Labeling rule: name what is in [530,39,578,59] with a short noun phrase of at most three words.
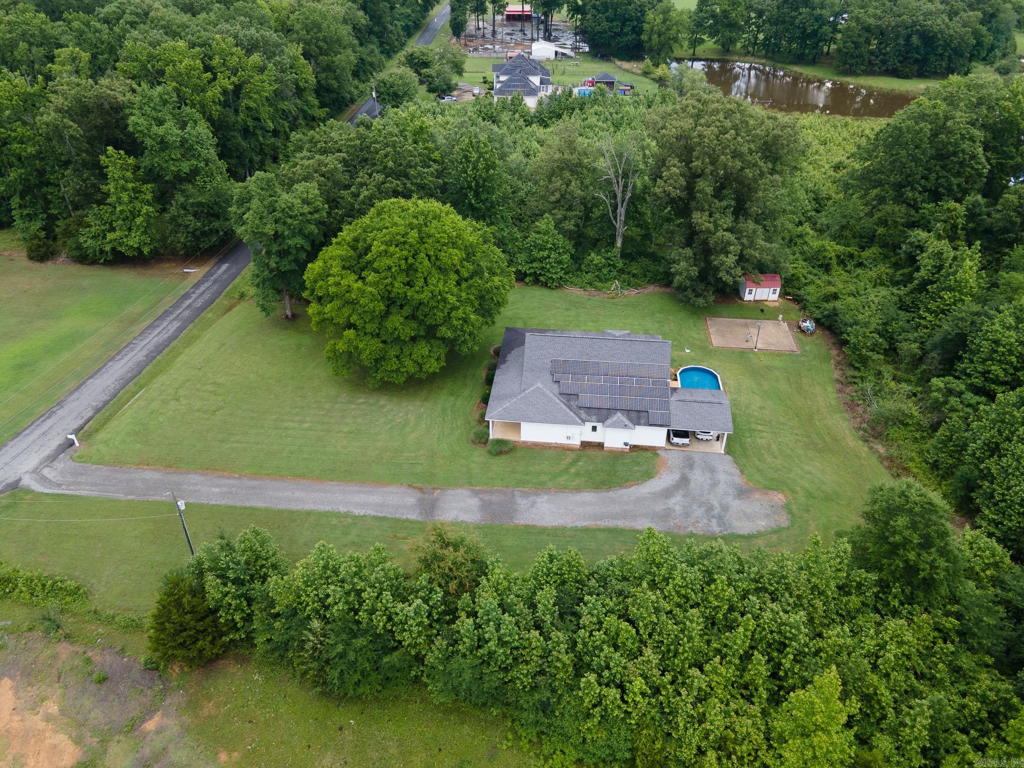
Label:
barn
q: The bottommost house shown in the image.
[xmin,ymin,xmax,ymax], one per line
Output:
[485,328,734,454]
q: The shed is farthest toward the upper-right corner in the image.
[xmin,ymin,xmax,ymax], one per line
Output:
[738,273,782,300]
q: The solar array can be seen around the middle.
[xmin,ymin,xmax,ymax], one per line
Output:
[551,357,671,425]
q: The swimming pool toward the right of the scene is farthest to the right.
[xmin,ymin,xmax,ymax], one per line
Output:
[676,365,723,392]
